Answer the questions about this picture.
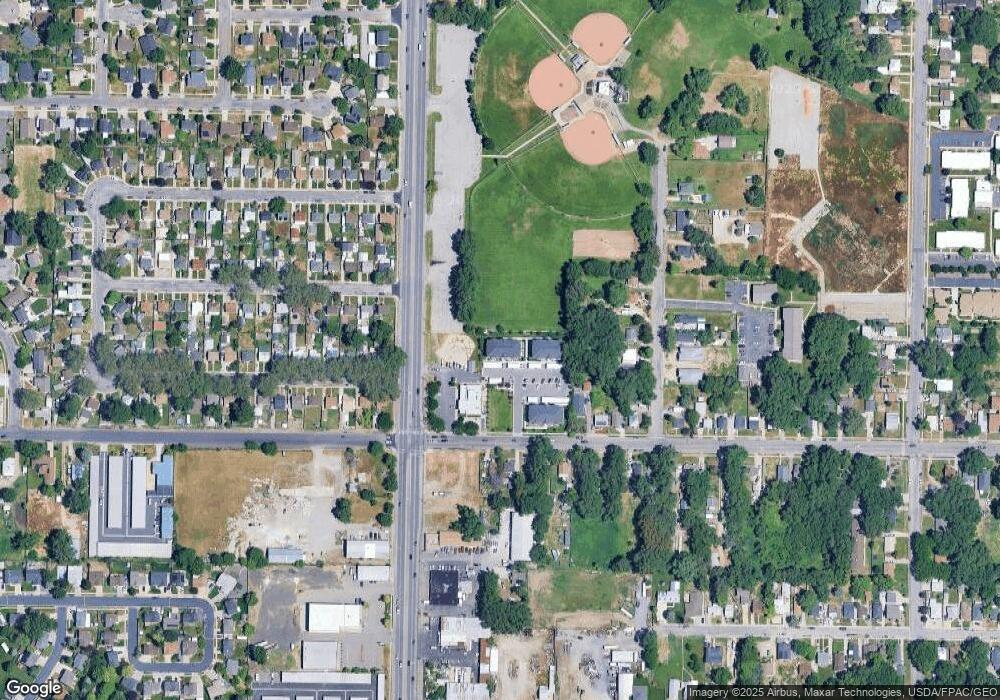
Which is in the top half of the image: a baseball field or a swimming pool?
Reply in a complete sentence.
The feature located in the top half of the image is a baseball field.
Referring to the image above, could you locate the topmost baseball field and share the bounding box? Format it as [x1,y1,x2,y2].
[512,0,650,69]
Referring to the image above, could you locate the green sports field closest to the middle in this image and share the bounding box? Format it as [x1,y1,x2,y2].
[470,163,632,333]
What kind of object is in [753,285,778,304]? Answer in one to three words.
building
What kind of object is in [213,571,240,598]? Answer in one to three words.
house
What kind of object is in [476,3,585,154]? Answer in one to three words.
baseball field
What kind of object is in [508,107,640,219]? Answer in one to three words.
baseball field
